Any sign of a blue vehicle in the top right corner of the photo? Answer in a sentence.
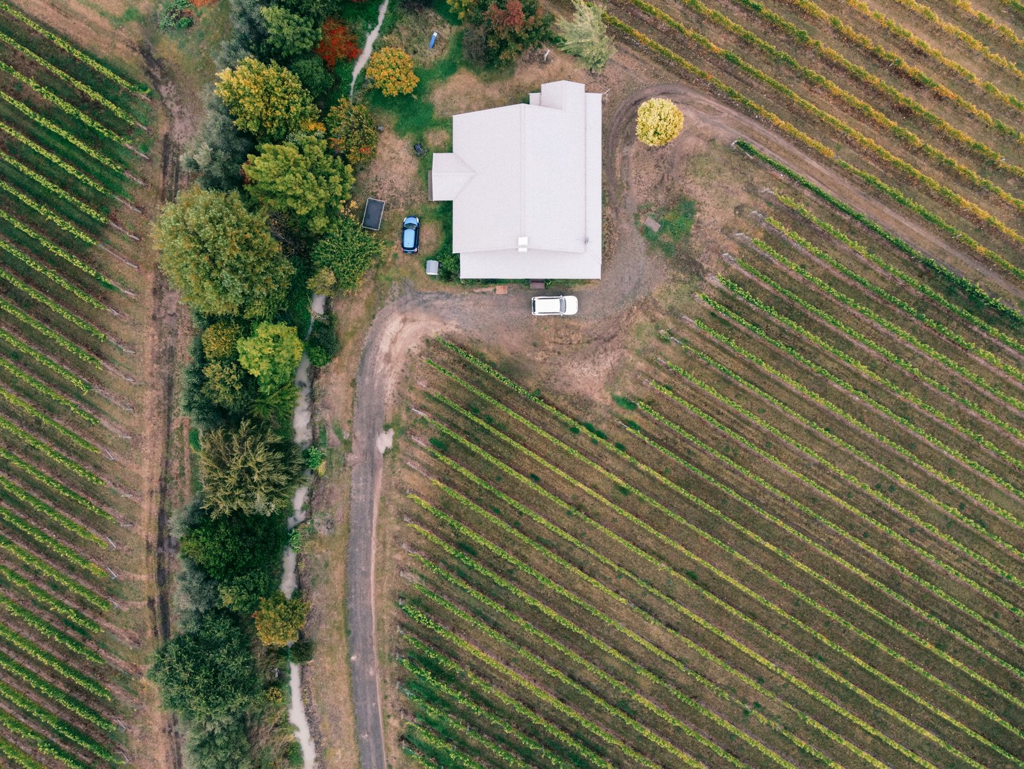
No, the scene shows no blue vehicle in the top right corner of the photo.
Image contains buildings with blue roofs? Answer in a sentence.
No, there's no building with a blue roof here.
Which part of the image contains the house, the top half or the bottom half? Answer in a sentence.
Seen from above, the house lies in the top half of the view.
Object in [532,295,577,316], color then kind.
white car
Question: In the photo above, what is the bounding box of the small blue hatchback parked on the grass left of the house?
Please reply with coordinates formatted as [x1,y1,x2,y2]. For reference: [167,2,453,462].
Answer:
[400,218,421,255]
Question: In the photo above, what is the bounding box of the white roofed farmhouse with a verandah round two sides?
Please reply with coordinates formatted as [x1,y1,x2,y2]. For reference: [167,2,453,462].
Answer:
[428,80,605,290]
